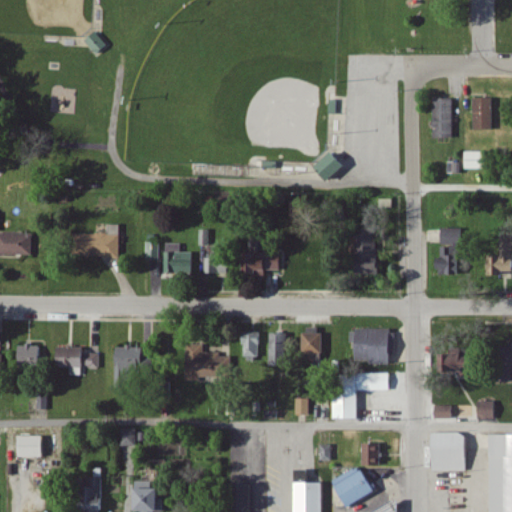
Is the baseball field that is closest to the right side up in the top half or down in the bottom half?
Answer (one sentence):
The baseball field that is closest to the right side is in the top half of the image.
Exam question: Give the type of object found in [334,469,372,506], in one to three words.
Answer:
building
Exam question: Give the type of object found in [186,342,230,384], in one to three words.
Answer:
house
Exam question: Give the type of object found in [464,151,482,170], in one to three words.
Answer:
building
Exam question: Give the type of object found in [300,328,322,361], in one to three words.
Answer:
house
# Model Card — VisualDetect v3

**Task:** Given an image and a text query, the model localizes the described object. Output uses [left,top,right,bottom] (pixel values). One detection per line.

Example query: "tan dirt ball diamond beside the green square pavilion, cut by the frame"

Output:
[26,0,92,36]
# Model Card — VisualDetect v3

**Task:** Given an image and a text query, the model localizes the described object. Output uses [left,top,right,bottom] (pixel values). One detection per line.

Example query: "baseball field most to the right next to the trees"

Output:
[246,78,326,158]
